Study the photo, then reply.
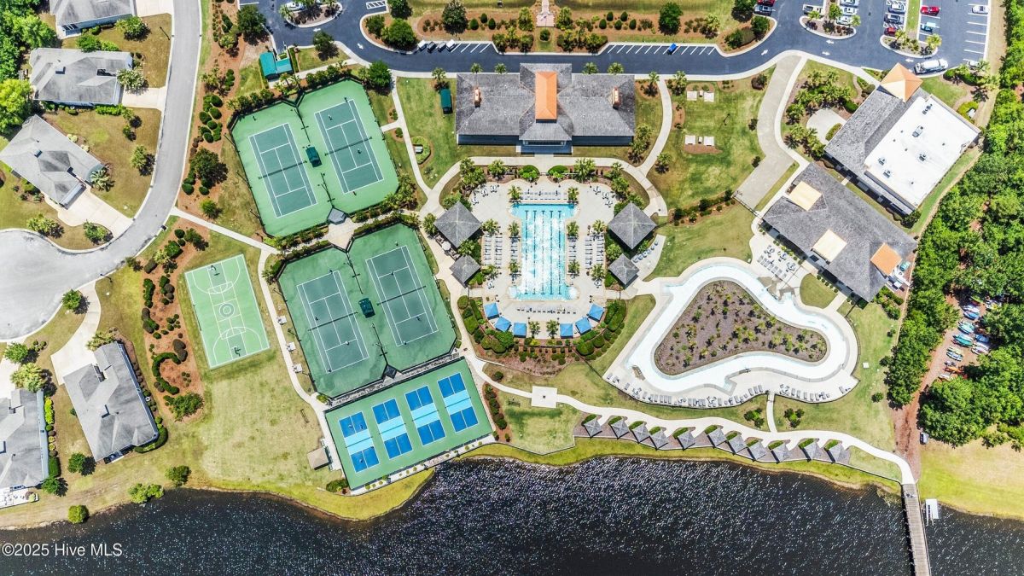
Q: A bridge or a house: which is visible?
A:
house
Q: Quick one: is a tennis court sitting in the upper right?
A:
No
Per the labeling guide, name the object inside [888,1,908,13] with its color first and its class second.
white vehicle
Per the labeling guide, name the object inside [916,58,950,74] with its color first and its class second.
white vehicle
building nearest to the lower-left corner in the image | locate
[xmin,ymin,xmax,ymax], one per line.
[0,388,50,486]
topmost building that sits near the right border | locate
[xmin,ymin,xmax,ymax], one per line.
[822,62,982,214]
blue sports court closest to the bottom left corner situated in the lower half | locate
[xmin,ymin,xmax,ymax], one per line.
[339,411,379,473]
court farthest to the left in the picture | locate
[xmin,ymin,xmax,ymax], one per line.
[184,254,270,369]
